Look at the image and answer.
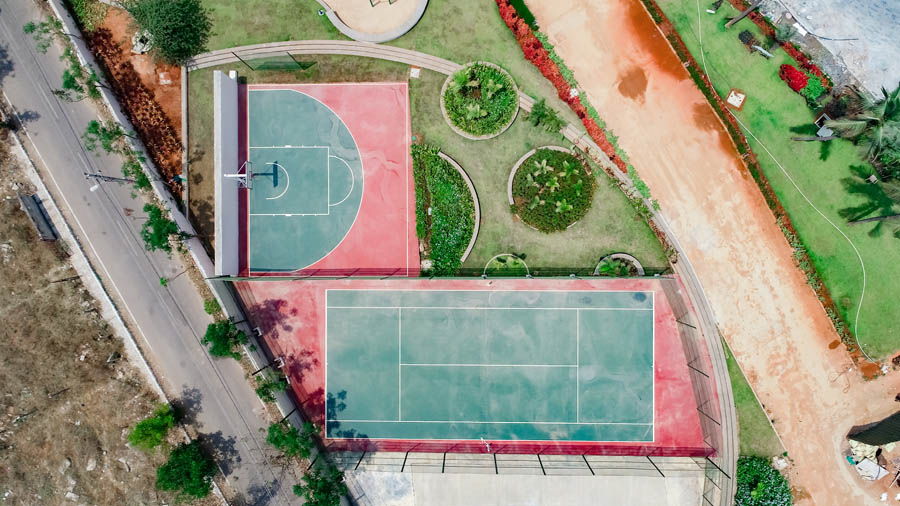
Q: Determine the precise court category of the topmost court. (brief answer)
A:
basketball court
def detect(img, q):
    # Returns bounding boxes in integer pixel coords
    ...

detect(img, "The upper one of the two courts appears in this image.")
[237,82,419,277]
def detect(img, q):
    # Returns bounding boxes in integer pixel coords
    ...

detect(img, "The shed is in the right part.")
[846,411,900,445]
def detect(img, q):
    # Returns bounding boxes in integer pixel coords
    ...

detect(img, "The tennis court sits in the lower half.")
[225,278,722,457]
